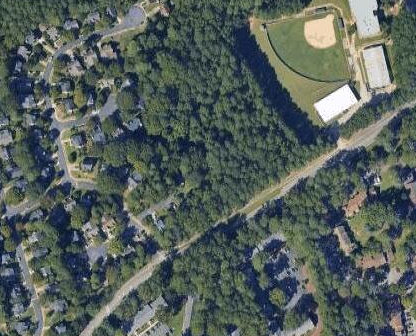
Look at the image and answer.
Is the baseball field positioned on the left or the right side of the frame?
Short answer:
right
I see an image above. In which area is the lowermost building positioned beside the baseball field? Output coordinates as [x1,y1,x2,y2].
[314,84,358,122]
